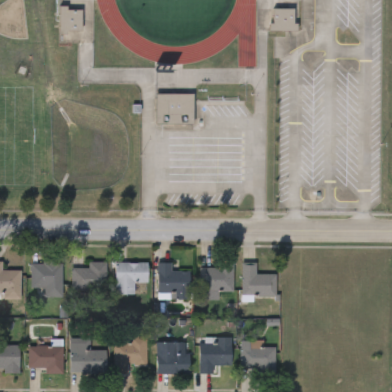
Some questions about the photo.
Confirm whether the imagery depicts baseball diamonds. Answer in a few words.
Yes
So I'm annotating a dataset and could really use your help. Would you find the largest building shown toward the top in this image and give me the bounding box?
[156,94,196,129]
